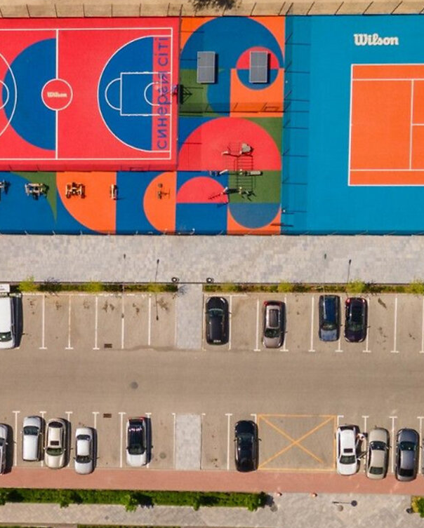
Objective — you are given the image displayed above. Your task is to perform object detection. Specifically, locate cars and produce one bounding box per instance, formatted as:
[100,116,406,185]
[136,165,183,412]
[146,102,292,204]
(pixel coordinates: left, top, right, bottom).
[262,299,286,348]
[394,429,420,480]
[203,296,230,346]
[72,427,95,473]
[335,426,366,474]
[0,424,9,473]
[44,420,69,468]
[317,295,341,342]
[343,297,368,343]
[365,429,390,479]
[20,416,43,461]
[234,421,259,471]
[125,418,148,466]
